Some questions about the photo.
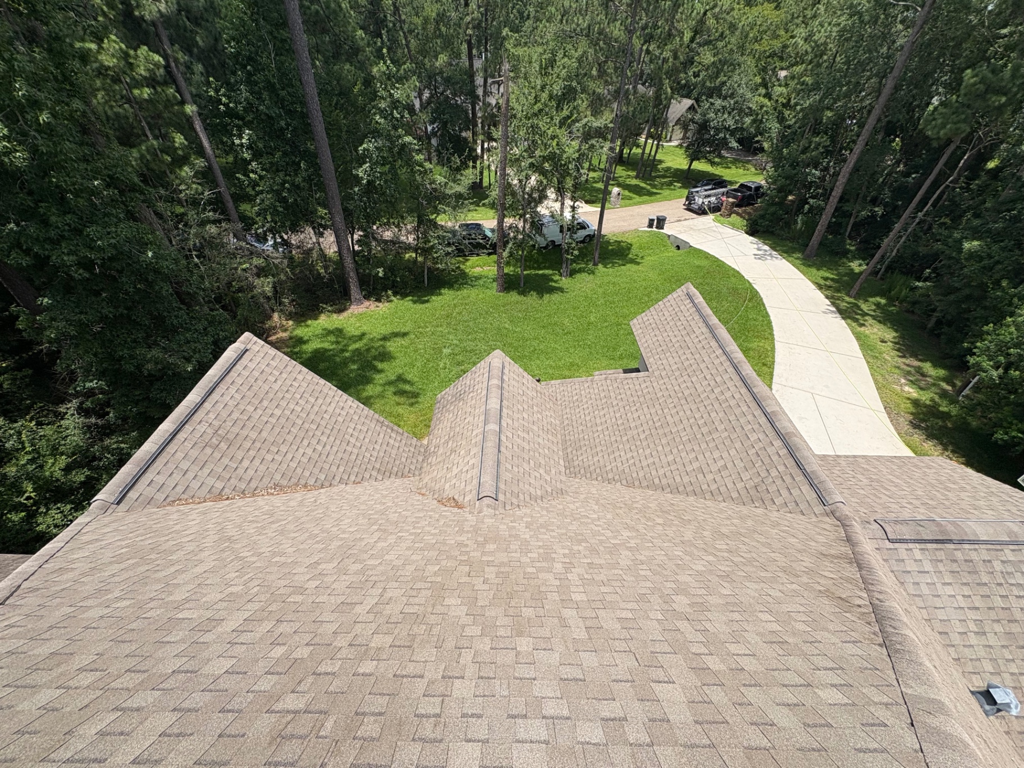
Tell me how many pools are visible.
none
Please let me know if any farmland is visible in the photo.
No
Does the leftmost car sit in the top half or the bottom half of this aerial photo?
top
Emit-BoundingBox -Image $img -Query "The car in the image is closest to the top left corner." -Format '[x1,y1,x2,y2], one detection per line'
[445,216,498,251]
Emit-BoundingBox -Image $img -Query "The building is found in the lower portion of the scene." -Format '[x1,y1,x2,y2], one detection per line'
[0,282,1024,768]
